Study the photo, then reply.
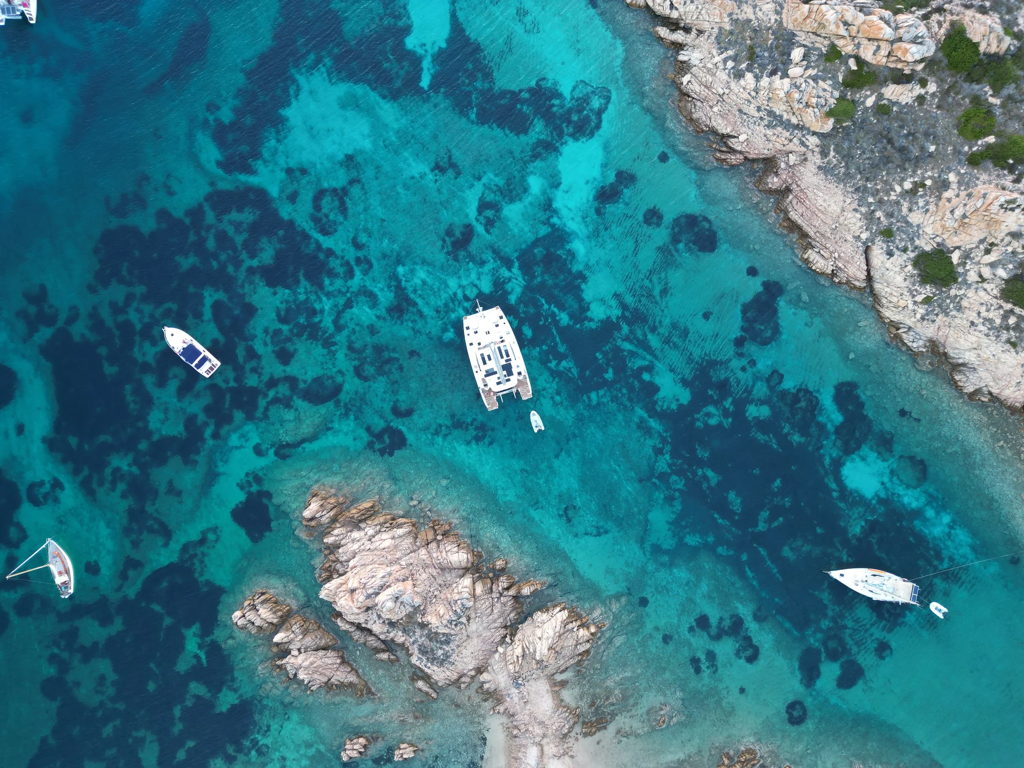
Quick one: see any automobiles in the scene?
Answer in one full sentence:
No, no automobile can be seen from above.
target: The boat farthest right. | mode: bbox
[929,601,948,618]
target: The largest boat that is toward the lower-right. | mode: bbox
[823,567,921,610]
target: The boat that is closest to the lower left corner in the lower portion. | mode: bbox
[7,536,75,599]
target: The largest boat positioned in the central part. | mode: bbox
[463,300,532,411]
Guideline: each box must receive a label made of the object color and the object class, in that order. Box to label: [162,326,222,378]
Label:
white boat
